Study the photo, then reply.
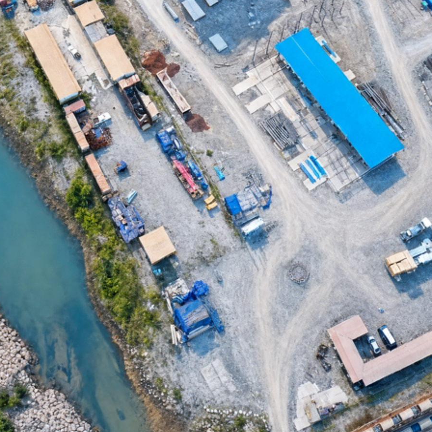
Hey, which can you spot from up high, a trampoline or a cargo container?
cargo container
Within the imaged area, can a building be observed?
Yes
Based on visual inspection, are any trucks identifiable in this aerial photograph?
Yes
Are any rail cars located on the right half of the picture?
No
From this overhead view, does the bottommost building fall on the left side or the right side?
right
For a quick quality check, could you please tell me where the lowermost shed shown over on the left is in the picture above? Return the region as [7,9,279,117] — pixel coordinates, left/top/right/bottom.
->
[140,226,176,265]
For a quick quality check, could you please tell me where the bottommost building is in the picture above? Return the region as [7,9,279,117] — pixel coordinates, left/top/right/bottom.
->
[328,315,432,388]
